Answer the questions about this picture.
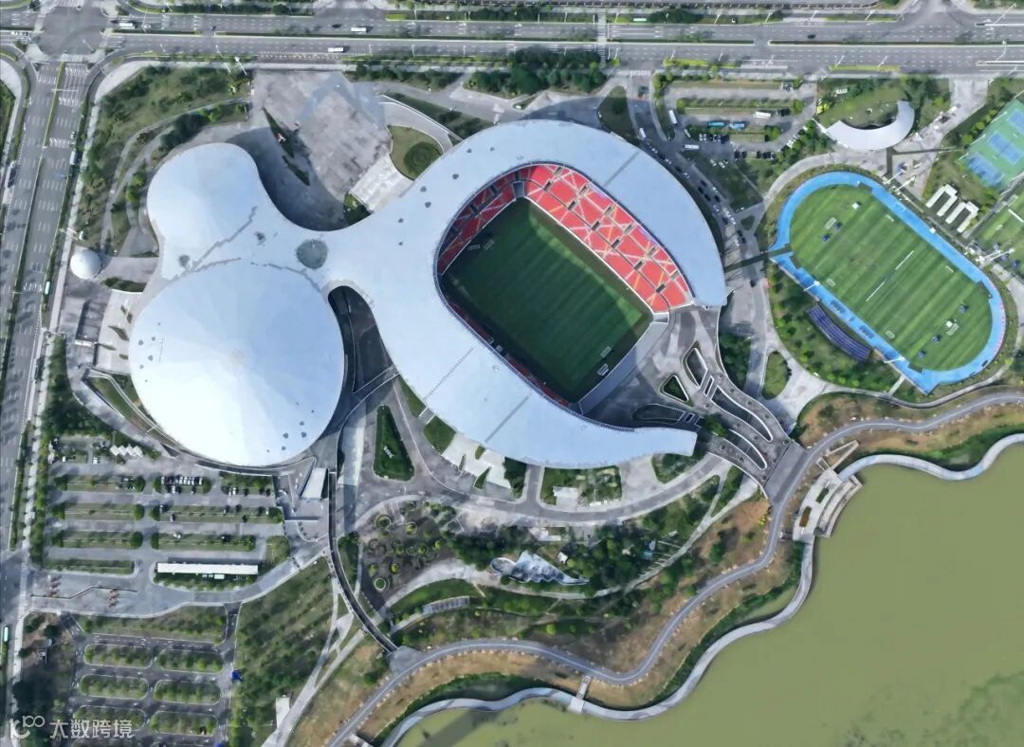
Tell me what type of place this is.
sports ground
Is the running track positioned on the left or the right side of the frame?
right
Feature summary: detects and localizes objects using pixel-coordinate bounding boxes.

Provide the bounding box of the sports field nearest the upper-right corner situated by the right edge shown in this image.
[968,182,1024,282]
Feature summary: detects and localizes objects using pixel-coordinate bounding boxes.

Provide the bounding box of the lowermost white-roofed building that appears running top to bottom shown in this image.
[275,695,292,730]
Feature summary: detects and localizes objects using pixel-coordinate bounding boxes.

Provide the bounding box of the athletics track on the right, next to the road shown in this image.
[769,170,1006,394]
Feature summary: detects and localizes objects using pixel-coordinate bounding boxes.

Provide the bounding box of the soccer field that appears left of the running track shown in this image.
[437,192,659,408]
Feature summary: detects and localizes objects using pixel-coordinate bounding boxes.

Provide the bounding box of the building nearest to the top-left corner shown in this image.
[71,249,105,280]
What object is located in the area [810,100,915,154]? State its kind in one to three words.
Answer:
building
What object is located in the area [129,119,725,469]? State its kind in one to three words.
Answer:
stadium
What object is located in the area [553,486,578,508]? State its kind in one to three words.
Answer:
building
